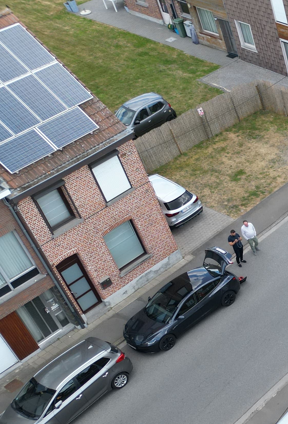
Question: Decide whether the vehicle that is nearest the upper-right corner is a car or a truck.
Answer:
car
